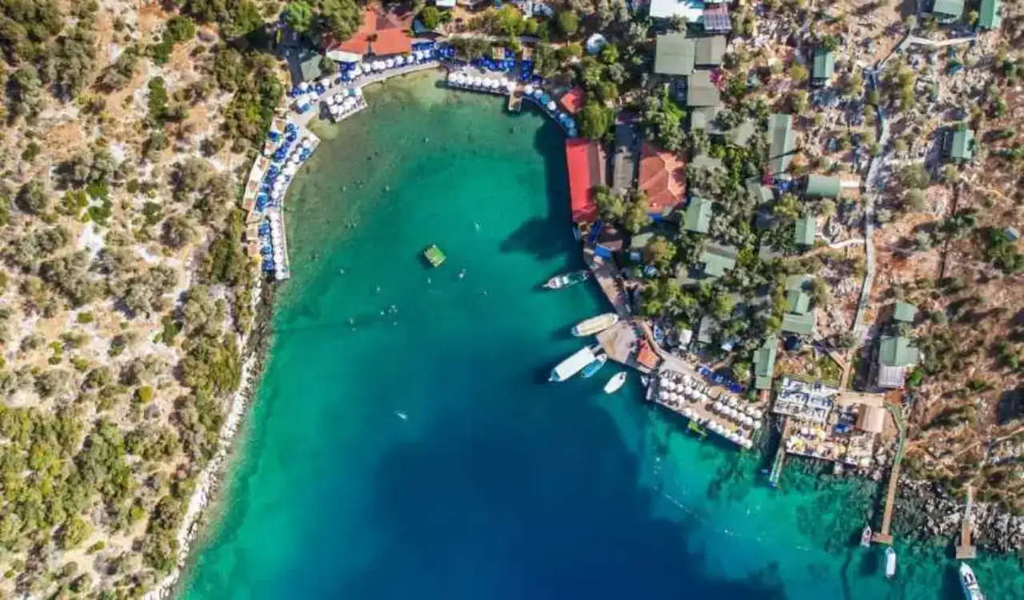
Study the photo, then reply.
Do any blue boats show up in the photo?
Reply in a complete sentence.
Yes, this view includes a blue boat.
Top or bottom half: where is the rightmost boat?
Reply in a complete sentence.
The bottom half of the photo is where the rightmost boat is.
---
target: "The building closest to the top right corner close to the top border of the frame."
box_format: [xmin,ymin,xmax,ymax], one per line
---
[968,0,1001,34]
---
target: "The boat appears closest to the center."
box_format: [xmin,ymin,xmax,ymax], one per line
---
[544,271,590,286]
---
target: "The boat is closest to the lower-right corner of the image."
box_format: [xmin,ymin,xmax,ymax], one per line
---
[962,564,989,600]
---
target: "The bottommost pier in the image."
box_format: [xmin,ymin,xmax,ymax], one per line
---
[953,521,976,558]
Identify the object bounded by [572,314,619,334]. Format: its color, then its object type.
white boat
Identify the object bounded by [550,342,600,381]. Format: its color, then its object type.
white boat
